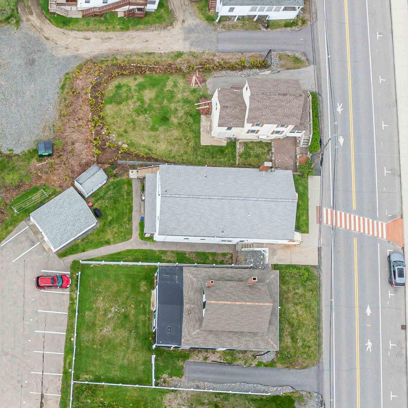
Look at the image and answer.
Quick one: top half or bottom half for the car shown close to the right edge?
bottom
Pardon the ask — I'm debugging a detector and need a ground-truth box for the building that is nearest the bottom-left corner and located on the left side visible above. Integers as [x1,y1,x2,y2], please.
[22,187,97,261]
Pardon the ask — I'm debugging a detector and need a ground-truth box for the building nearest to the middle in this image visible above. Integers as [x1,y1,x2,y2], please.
[129,160,303,264]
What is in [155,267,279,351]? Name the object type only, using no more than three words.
house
